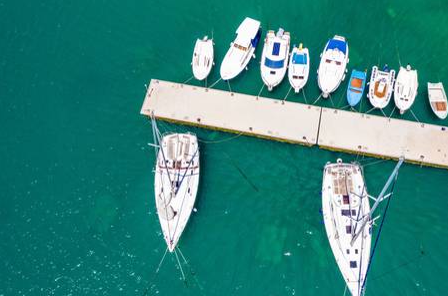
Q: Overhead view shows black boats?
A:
No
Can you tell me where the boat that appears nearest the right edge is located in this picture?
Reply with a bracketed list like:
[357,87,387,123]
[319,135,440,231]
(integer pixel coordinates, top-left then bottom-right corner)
[427,83,448,120]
